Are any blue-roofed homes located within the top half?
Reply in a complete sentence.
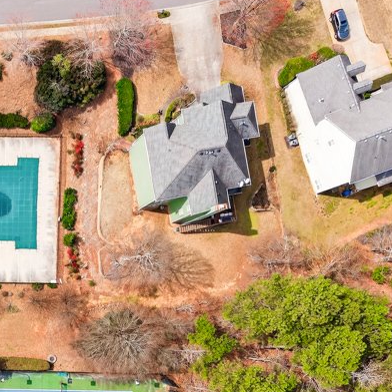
No, there is no blue-roofed home within the top half.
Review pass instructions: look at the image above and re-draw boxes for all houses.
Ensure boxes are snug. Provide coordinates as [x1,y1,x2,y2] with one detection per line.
[284,54,392,194]
[131,84,260,234]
